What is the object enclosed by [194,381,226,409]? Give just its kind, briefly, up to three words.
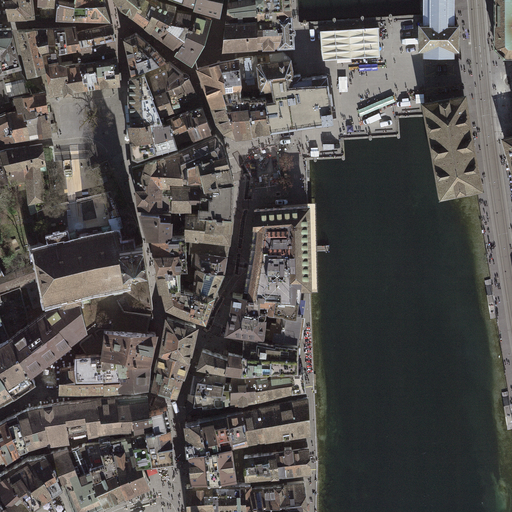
house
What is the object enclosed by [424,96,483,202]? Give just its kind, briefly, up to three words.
building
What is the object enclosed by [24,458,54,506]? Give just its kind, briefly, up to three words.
house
